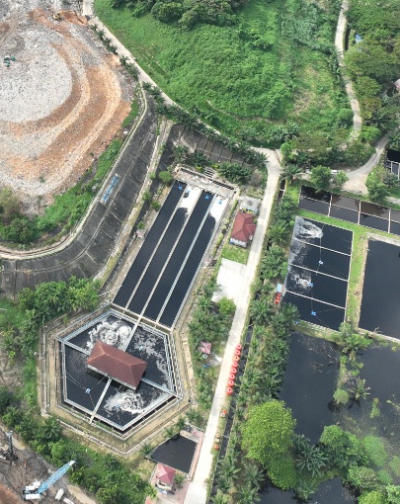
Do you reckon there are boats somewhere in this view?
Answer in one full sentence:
No, no boat is visible in the view.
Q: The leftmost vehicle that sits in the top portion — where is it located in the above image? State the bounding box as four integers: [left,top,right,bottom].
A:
[51,5,82,19]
